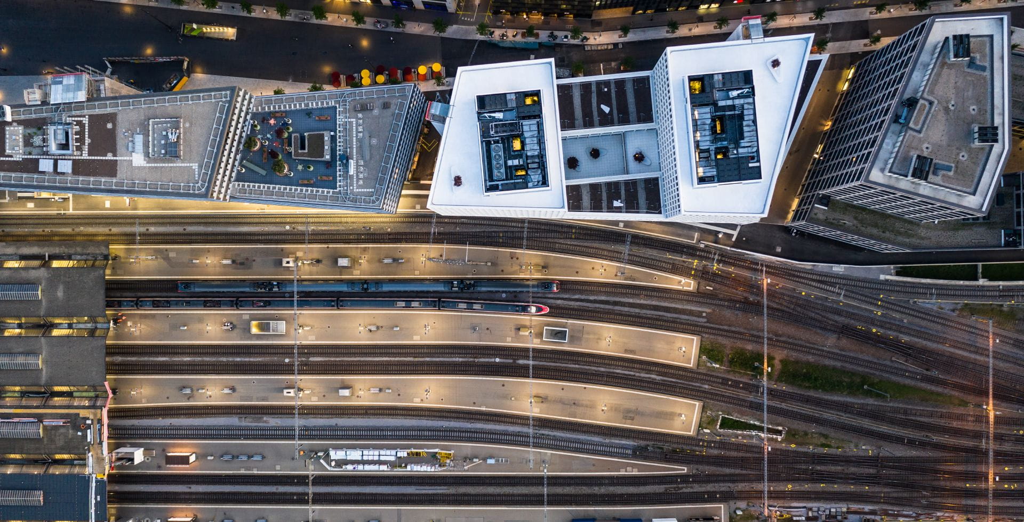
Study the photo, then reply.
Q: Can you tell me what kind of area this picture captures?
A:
rail yard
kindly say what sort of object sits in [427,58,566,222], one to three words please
building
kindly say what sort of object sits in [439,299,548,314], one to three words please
rail car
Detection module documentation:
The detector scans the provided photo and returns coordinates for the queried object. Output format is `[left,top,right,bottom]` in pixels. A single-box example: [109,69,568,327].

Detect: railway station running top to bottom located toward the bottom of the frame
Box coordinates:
[0,242,110,522]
